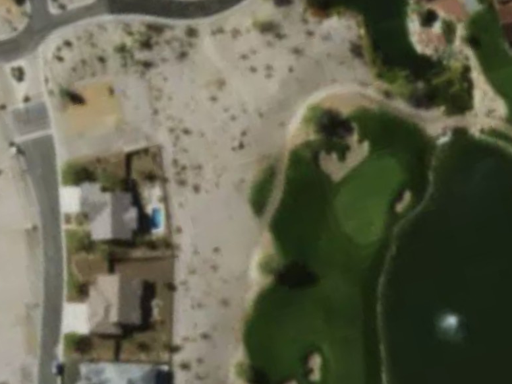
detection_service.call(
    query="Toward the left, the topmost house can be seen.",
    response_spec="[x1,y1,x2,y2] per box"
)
[80,183,138,241]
